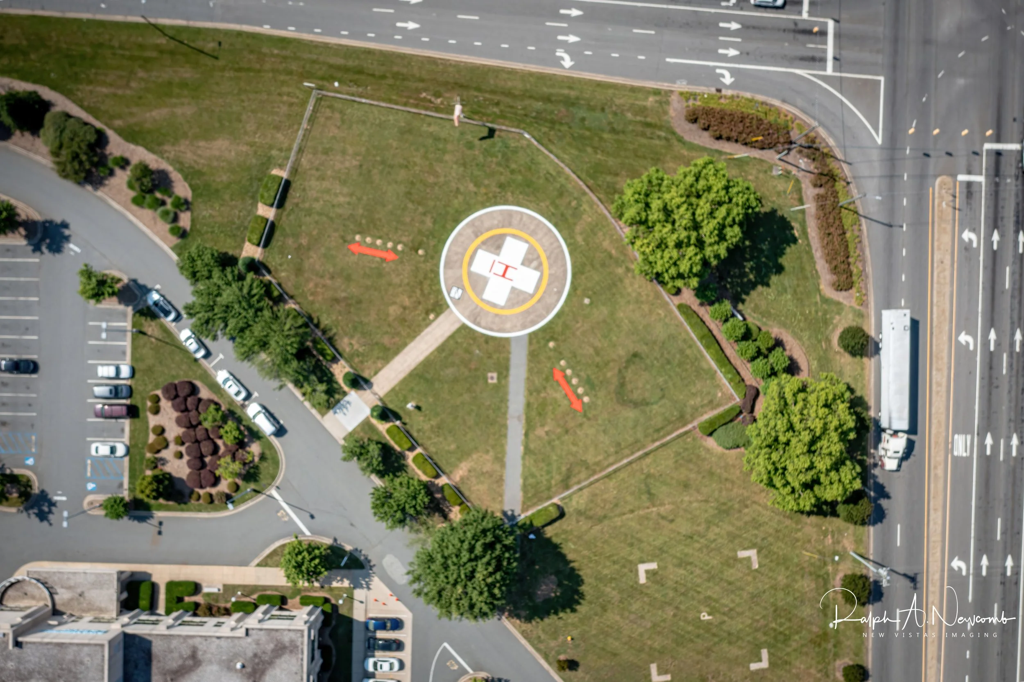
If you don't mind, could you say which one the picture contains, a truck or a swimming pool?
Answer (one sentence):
Looking from above, you can make out a truck.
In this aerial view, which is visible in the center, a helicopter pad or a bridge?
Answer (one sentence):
Looking in the center, you will find a helicopter pad.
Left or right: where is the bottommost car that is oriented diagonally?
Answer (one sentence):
It is on the left.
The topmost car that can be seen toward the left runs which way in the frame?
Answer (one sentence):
The topmost car that can be seen toward the left is laid out on a diagonal.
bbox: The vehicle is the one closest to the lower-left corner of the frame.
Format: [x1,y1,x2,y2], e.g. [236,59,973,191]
[90,442,127,458]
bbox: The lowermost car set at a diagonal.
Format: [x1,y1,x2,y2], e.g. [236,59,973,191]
[248,400,280,438]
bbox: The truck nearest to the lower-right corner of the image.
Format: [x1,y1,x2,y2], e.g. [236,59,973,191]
[877,309,911,472]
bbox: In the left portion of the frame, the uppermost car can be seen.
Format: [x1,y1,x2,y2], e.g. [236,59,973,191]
[151,288,181,324]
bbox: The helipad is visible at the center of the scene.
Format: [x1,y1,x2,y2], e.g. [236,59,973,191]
[440,205,571,337]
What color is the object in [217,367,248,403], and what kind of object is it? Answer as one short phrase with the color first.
white car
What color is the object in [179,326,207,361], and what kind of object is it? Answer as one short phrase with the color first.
white car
